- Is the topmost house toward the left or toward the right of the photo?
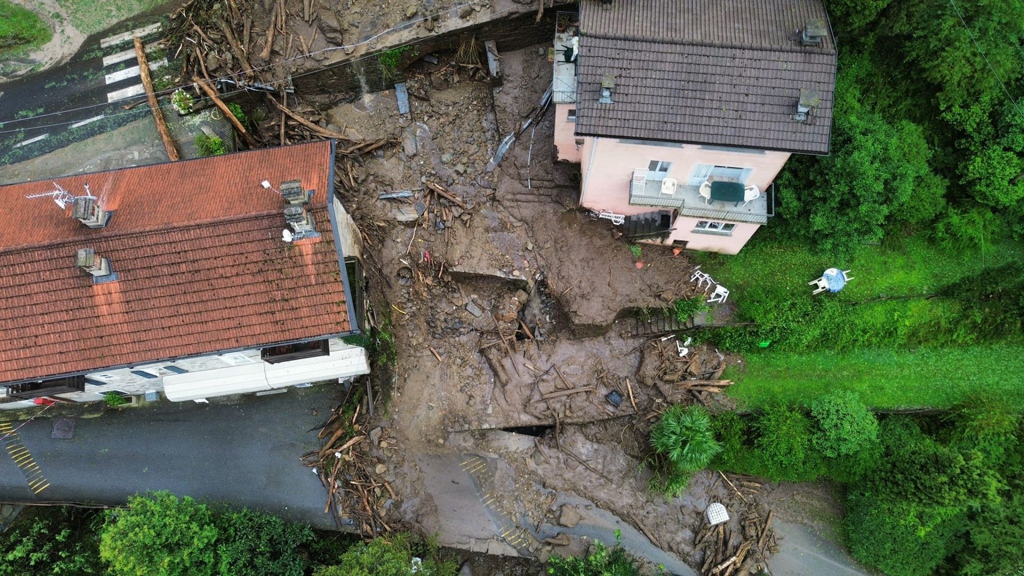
right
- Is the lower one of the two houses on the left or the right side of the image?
left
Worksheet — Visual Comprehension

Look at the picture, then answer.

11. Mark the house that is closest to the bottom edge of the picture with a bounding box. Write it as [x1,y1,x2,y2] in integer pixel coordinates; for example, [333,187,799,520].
[0,136,380,413]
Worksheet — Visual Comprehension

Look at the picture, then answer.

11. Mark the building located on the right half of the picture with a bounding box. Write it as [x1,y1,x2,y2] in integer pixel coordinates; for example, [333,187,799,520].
[549,0,846,249]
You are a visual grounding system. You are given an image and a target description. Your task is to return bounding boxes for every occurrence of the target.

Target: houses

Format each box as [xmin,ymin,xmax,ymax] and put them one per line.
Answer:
[549,0,846,249]
[0,136,380,413]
